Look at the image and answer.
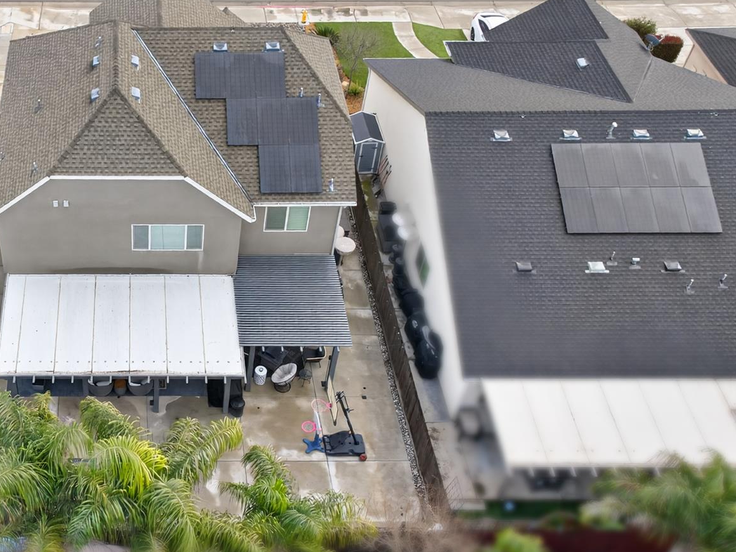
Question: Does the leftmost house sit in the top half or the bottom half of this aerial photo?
top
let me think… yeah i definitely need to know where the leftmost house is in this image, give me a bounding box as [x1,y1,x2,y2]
[0,0,357,279]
